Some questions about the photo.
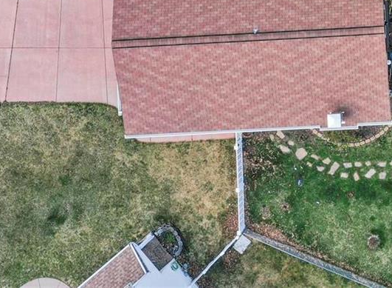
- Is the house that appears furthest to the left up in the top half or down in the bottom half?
bottom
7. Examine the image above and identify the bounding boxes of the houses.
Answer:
[111,0,392,141]
[75,232,201,288]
